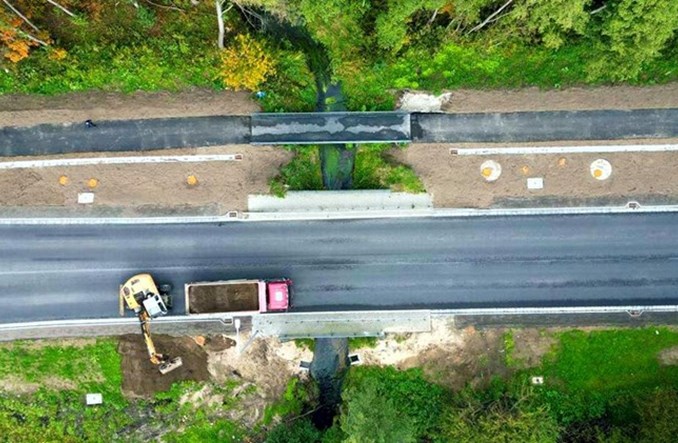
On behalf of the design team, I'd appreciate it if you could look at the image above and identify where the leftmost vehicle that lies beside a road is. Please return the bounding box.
[117,272,183,374]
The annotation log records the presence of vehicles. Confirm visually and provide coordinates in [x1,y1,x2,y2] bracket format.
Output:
[117,272,183,374]
[181,276,295,317]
